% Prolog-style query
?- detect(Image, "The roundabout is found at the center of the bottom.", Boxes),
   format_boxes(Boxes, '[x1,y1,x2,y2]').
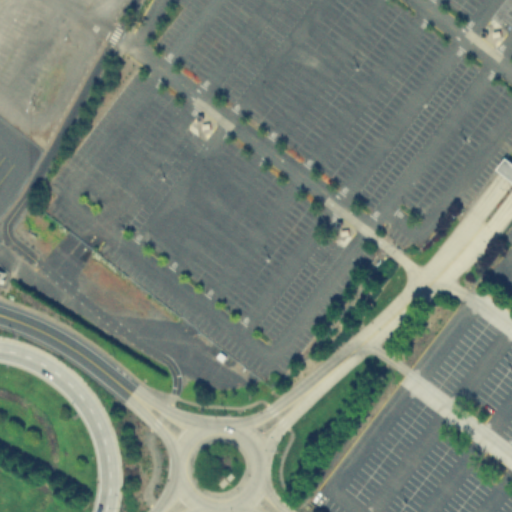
[150,407,294,512]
